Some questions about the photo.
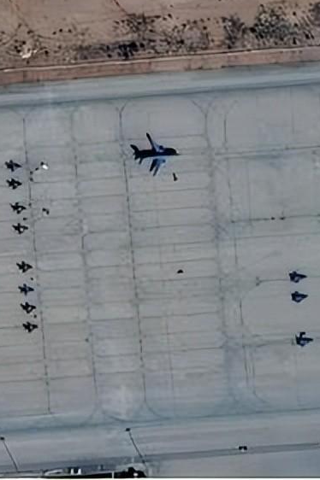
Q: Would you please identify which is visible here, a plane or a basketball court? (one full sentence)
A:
Of the two, only a plane appears.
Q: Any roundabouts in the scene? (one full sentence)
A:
No, there isn't any roundabout down there.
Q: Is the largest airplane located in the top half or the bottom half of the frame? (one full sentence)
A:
The largest airplane sits in the top half of the picture.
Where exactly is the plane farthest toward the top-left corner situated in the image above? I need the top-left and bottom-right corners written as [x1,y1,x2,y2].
[5,161,22,174]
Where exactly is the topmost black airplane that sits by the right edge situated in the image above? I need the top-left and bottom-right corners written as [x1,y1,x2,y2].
[288,271,307,285]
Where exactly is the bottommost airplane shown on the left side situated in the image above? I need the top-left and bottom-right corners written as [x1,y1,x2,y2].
[22,321,39,334]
